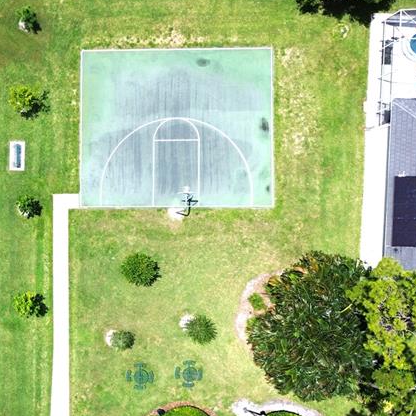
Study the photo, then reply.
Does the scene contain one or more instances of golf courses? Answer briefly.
No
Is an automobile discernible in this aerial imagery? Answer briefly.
No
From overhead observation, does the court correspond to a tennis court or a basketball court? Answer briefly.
basketball court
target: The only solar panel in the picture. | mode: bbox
[393,175,416,247]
